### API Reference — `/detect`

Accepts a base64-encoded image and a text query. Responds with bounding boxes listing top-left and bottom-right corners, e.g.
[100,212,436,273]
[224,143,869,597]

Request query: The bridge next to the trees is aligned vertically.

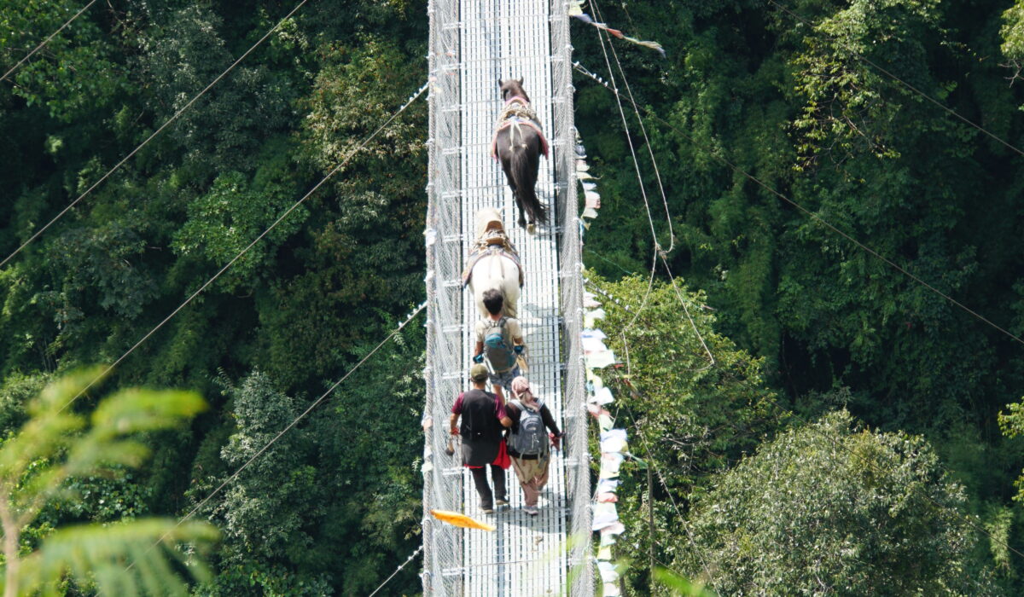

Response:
[422,0,594,597]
